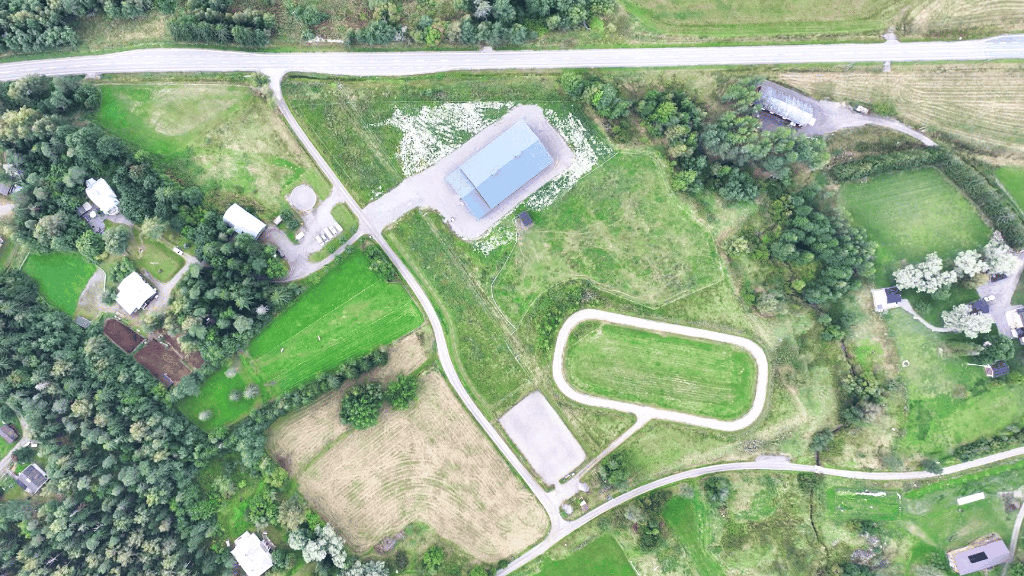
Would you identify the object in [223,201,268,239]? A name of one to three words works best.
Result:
building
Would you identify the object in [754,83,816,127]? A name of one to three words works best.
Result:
barn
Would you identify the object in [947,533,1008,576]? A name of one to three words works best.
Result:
barn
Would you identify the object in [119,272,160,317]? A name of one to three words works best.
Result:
house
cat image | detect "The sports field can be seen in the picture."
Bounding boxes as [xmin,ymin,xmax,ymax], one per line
[840,167,993,299]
